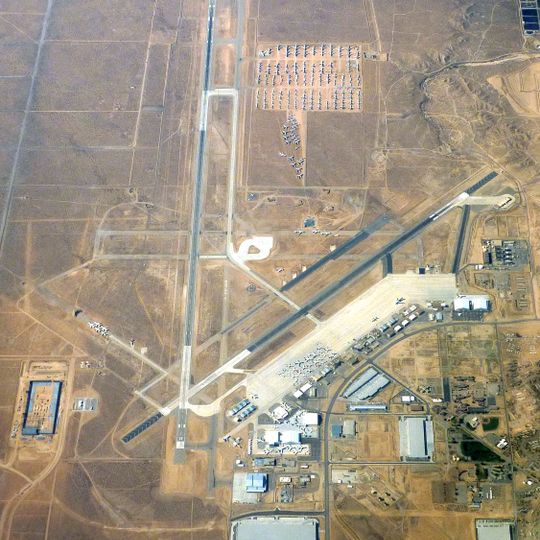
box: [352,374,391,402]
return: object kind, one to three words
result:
building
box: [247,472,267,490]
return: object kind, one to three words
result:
hangar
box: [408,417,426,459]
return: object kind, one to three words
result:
building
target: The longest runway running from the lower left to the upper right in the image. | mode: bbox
[121,175,496,443]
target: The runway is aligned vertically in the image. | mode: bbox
[173,0,217,464]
